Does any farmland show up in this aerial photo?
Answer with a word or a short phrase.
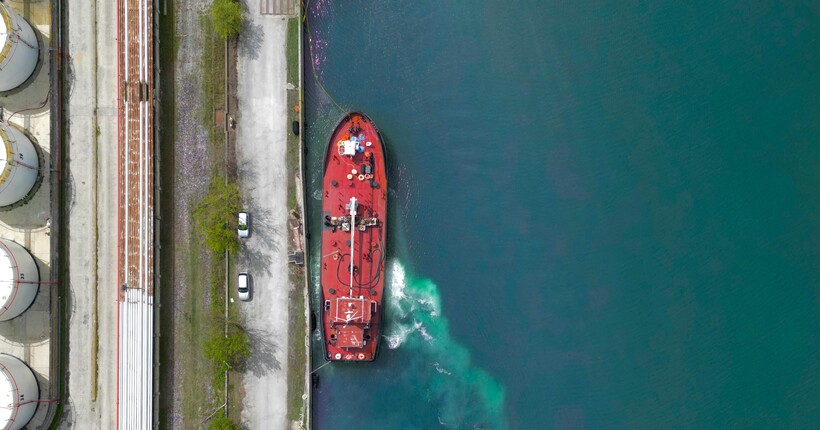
No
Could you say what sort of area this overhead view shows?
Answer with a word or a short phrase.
industrial area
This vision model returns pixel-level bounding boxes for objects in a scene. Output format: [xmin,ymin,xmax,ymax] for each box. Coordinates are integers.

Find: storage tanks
[0,119,59,211]
[0,0,59,97]
[0,352,59,430]
[0,235,59,322]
